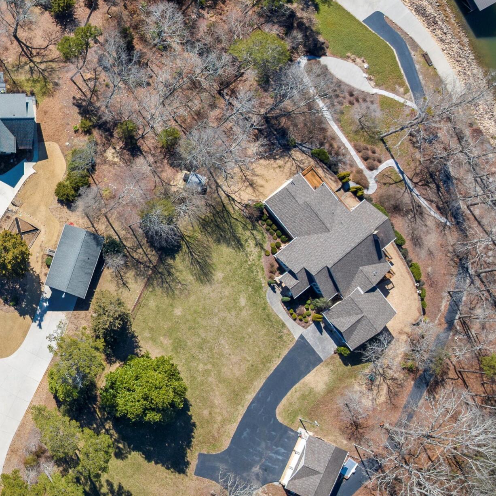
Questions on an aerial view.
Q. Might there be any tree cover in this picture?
Yes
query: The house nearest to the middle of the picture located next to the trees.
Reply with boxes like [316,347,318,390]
[263,163,398,350]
